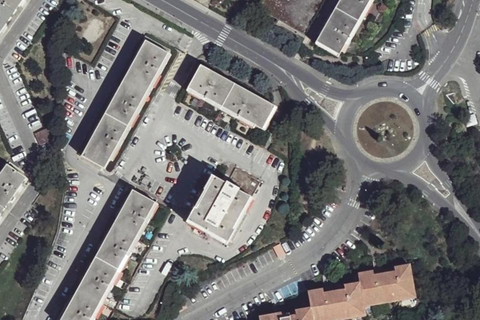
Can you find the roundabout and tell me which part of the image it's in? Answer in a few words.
right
